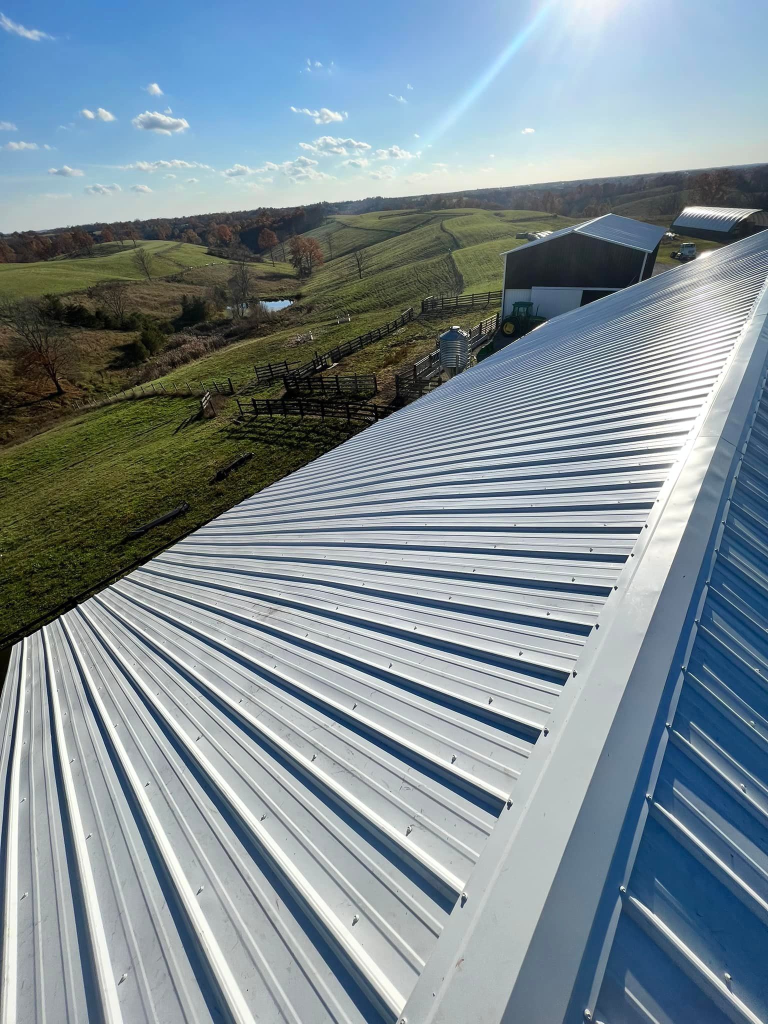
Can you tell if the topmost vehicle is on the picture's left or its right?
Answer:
right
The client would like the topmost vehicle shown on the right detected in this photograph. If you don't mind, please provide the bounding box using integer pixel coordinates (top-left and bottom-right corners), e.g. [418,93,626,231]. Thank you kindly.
[673,240,705,260]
